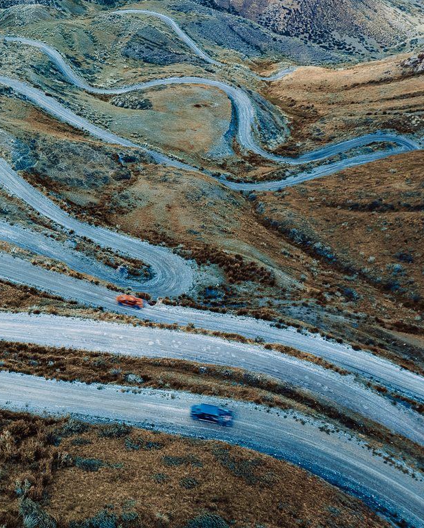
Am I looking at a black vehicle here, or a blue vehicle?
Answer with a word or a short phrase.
blue vehicle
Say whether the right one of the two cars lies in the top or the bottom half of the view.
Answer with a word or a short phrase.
bottom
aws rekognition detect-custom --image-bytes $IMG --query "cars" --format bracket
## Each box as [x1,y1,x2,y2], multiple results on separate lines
[116,296,143,310]
[190,405,236,430]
